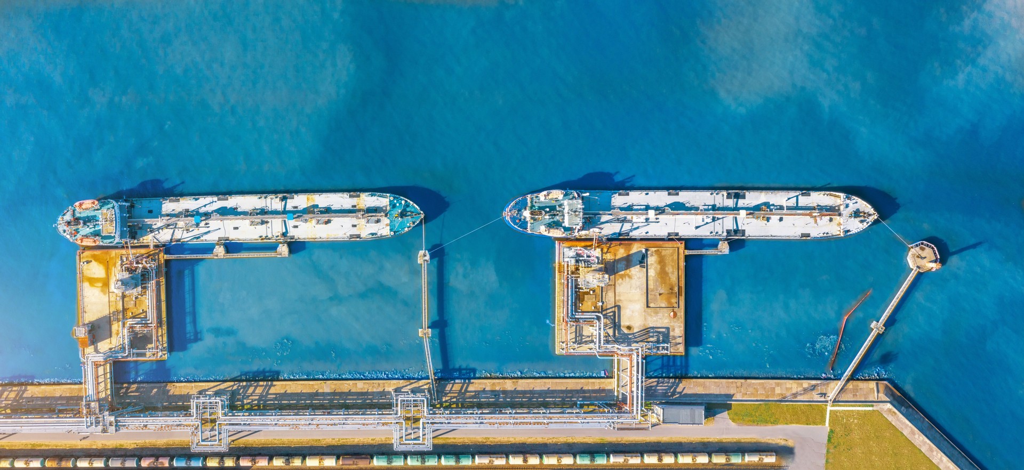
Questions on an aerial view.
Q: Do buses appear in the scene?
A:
No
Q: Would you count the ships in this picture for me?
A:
2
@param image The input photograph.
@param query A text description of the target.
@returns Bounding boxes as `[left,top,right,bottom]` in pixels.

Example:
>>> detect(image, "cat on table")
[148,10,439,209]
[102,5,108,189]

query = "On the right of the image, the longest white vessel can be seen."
[502,191,879,240]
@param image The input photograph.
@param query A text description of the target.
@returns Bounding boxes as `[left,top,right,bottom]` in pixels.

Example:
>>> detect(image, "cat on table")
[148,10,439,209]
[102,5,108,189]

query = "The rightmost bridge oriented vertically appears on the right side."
[622,355,644,407]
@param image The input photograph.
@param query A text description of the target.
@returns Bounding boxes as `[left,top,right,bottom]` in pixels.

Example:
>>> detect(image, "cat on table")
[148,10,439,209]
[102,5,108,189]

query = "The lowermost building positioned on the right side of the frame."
[654,404,704,425]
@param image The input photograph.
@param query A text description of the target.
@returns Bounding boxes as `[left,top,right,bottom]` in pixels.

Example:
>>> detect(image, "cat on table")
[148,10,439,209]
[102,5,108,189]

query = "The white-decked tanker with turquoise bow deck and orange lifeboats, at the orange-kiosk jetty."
[54,193,424,246]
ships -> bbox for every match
[502,191,879,240]
[54,193,424,246]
